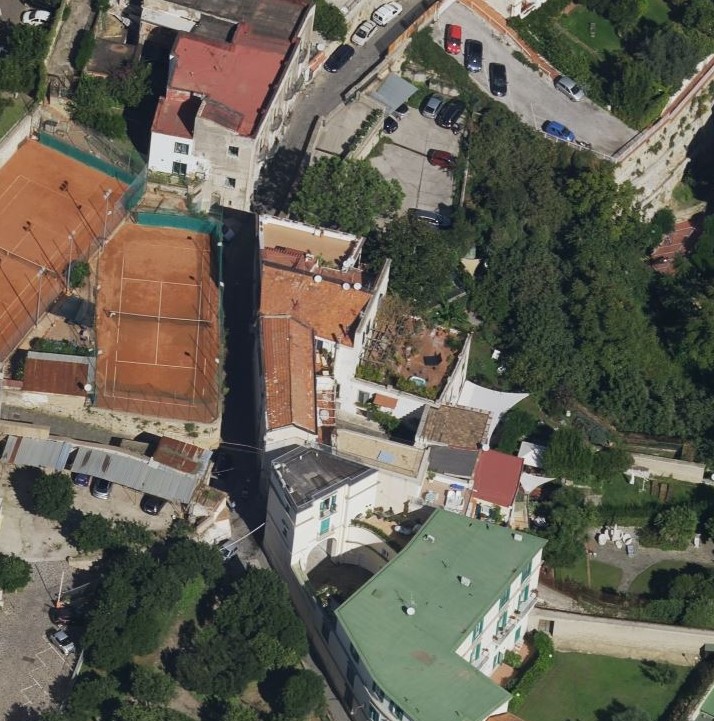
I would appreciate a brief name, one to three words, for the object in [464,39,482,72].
car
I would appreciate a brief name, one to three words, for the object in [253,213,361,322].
house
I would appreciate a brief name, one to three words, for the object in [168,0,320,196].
building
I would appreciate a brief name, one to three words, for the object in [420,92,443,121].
car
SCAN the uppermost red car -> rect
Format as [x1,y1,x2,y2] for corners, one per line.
[444,25,462,54]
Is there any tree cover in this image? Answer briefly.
Yes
